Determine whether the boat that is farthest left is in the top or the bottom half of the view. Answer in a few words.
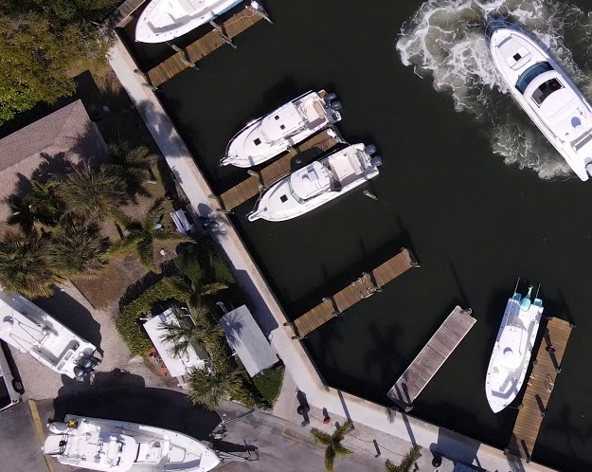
bottom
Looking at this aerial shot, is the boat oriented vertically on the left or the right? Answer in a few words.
right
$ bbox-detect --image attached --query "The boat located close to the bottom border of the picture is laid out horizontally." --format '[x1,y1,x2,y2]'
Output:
[37,416,219,472]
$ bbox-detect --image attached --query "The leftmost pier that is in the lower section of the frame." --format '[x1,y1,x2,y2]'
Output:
[283,247,422,343]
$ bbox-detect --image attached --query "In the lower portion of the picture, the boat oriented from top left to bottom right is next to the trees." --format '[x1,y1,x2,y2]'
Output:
[0,283,112,382]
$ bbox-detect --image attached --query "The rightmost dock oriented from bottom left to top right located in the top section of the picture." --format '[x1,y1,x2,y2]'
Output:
[210,123,343,218]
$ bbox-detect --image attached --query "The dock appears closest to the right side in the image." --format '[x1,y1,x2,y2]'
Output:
[501,316,577,464]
